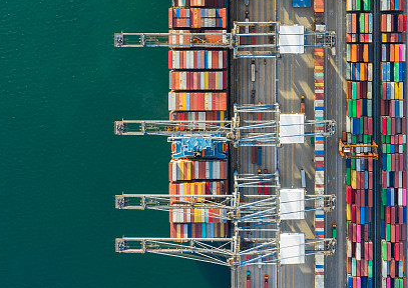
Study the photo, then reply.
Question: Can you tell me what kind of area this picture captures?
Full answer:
The area seen from above is a port.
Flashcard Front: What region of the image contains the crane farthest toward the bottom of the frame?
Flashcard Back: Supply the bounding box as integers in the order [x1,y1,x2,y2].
[114,203,337,273]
